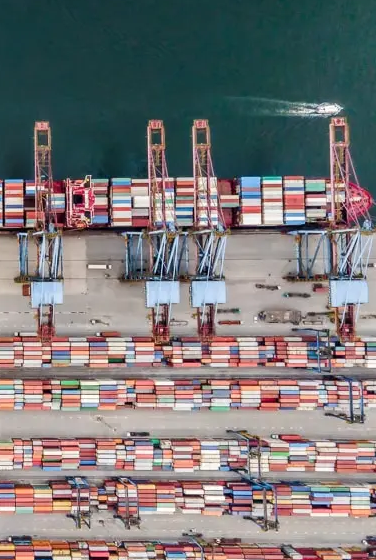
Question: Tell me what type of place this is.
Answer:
port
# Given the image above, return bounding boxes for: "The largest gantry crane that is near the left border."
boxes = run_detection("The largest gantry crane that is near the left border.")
[5,115,66,338]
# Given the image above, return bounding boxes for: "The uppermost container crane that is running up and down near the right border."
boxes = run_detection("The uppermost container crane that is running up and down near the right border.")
[272,113,376,336]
